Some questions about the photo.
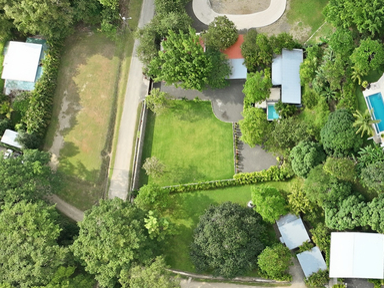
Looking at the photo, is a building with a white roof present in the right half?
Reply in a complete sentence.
Yes, you'll find a building with a white roof in the right half.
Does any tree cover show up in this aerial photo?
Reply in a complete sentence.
Yes, tree cover can be seen from above here.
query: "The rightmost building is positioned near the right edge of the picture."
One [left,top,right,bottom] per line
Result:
[329,233,384,279]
